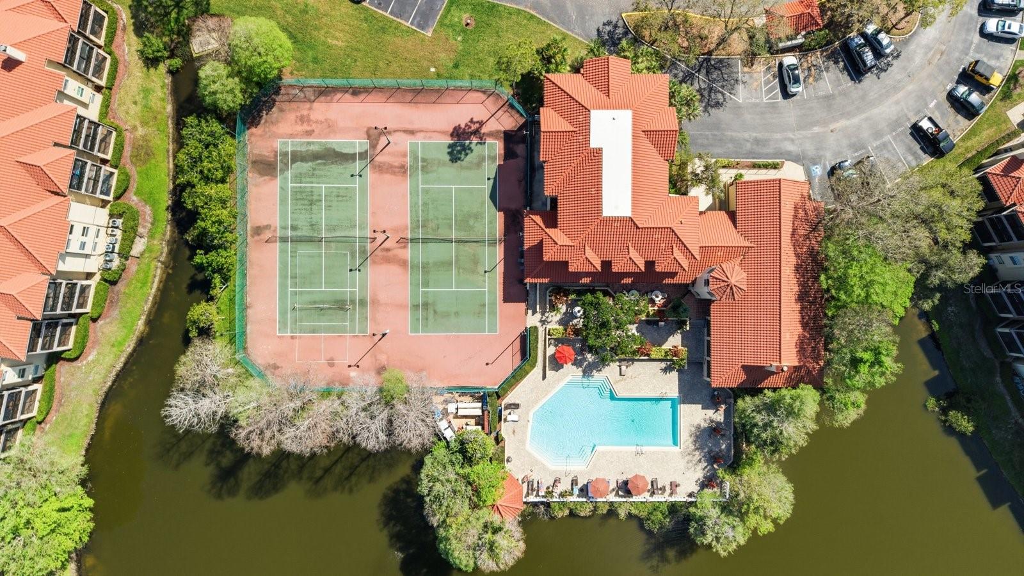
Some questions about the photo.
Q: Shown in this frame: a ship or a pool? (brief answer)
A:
pool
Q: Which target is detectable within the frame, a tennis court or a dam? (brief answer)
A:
tennis court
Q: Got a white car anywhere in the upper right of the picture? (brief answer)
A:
Yes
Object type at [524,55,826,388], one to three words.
building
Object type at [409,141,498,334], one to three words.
tennis court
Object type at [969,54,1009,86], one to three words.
car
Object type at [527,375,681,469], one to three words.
swimming pool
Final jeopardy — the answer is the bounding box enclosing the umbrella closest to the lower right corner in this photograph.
[628,475,648,495]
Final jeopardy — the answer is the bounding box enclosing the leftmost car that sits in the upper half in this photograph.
[781,54,807,95]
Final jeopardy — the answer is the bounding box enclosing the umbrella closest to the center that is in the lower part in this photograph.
[555,345,575,364]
